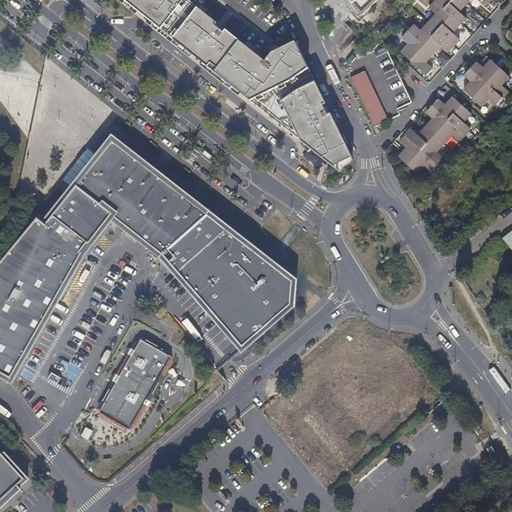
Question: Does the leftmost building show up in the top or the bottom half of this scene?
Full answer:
The bottom half of the photo is where the leftmost building is.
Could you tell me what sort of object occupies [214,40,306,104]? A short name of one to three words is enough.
building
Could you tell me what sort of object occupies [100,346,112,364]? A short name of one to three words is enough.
vehicle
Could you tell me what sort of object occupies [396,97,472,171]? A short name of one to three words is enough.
house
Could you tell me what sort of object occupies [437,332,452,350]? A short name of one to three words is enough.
vehicle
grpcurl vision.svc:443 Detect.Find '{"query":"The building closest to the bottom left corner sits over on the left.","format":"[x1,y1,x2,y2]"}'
[0,445,30,510]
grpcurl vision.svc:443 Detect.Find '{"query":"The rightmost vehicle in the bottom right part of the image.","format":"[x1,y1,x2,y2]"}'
[488,364,512,396]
